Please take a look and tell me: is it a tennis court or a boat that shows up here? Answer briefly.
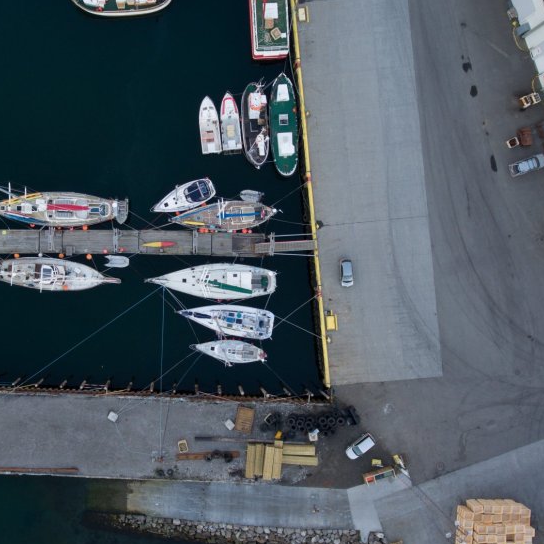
boat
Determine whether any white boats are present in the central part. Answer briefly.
Yes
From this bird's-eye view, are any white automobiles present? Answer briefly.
Yes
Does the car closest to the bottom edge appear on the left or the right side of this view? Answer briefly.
right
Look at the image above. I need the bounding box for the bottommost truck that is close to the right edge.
[511,154,544,175]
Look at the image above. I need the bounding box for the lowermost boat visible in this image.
[191,339,267,371]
